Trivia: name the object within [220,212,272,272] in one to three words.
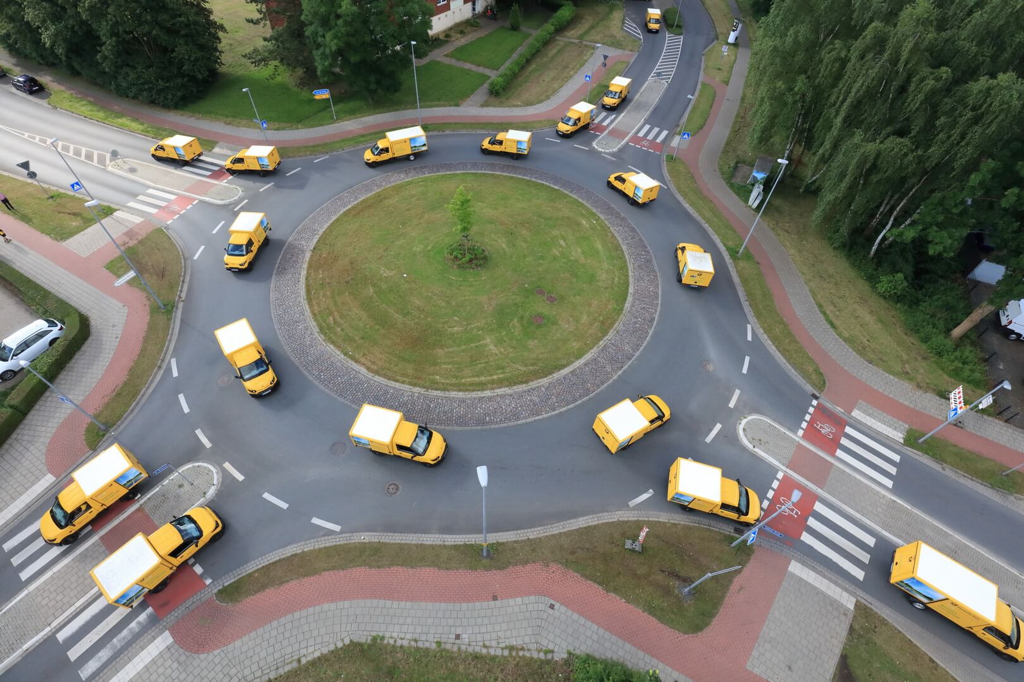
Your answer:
van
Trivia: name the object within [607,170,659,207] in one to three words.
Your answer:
van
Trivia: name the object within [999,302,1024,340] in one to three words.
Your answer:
vehicle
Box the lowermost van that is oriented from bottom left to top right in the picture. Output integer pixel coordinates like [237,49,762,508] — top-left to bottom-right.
[92,507,227,611]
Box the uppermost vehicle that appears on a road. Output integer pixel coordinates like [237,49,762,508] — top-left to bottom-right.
[644,8,662,35]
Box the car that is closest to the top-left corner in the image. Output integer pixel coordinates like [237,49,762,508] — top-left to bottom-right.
[7,73,41,94]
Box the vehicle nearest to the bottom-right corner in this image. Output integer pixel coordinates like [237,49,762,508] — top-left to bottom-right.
[888,542,1024,668]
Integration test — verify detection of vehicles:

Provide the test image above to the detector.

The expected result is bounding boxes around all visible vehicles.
[92,507,227,611]
[666,459,762,530]
[351,406,446,469]
[363,126,428,166]
[601,76,632,112]
[888,542,1024,668]
[0,310,65,376]
[607,170,659,207]
[220,212,272,272]
[594,393,673,455]
[999,302,1024,340]
[480,129,531,159]
[554,101,596,139]
[223,145,282,177]
[644,8,662,35]
[676,243,714,290]
[216,319,277,398]
[7,73,41,94]
[36,445,152,548]
[148,134,205,166]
